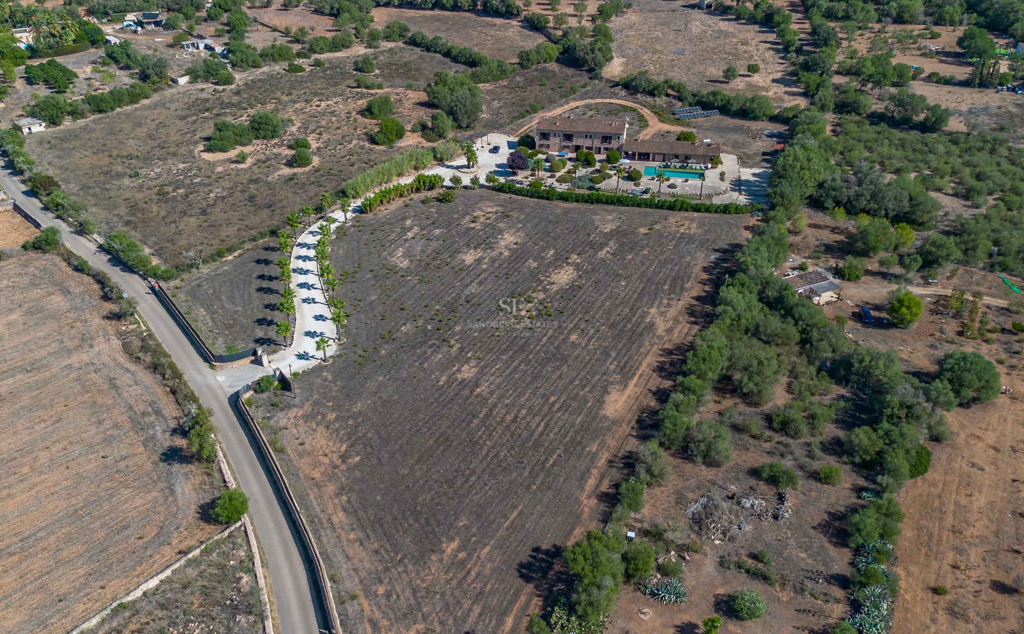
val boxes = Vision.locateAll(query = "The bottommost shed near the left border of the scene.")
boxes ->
[9,114,46,133]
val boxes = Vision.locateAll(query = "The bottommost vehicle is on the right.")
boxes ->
[854,301,882,324]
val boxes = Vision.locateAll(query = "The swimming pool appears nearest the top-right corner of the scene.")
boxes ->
[642,165,706,181]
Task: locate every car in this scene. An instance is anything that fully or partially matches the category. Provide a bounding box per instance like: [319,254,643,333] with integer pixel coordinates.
[491,145,501,154]
[466,142,483,151]
[854,301,882,324]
